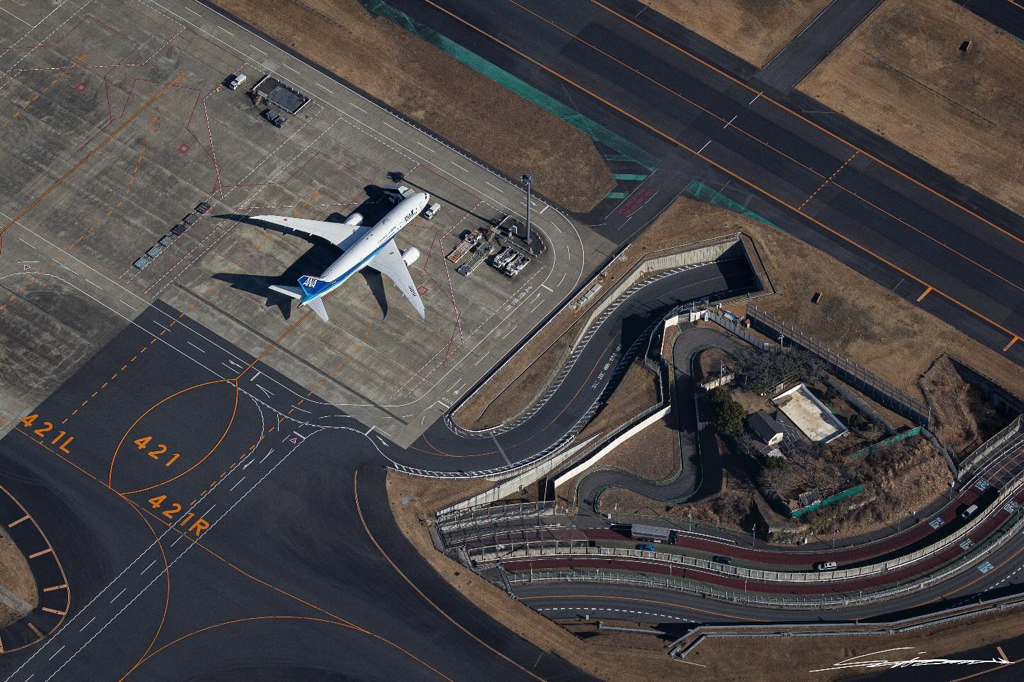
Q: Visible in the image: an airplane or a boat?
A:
airplane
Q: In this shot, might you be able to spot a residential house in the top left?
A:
No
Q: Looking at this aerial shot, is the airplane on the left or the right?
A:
left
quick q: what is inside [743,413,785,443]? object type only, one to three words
house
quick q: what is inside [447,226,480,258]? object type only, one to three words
work vehicle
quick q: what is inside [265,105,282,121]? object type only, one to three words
work vehicle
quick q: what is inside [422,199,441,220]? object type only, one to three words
vehicle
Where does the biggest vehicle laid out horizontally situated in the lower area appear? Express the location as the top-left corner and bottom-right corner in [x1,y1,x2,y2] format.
[631,524,677,546]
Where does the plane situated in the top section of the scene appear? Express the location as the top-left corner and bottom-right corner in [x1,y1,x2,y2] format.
[253,195,430,324]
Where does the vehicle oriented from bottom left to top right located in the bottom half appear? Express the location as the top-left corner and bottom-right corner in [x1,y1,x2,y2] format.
[961,503,979,519]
